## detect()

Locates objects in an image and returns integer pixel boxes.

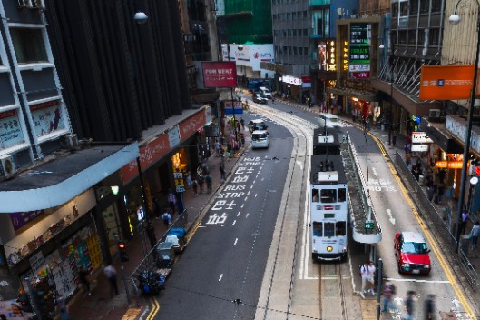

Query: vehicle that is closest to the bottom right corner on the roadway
[388,226,431,269]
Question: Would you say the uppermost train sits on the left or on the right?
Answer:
right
